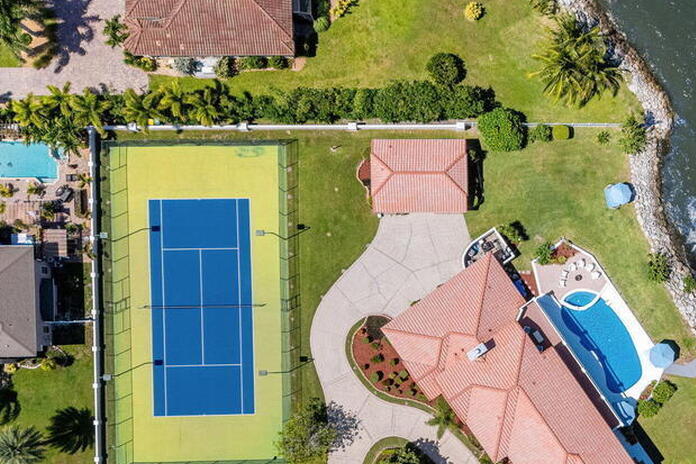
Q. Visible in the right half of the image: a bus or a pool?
pool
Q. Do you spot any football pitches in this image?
No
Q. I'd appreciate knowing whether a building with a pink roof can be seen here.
Yes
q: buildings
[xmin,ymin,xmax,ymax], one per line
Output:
[0,246,65,357]
[371,139,468,215]
[123,0,296,63]
[384,252,639,464]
